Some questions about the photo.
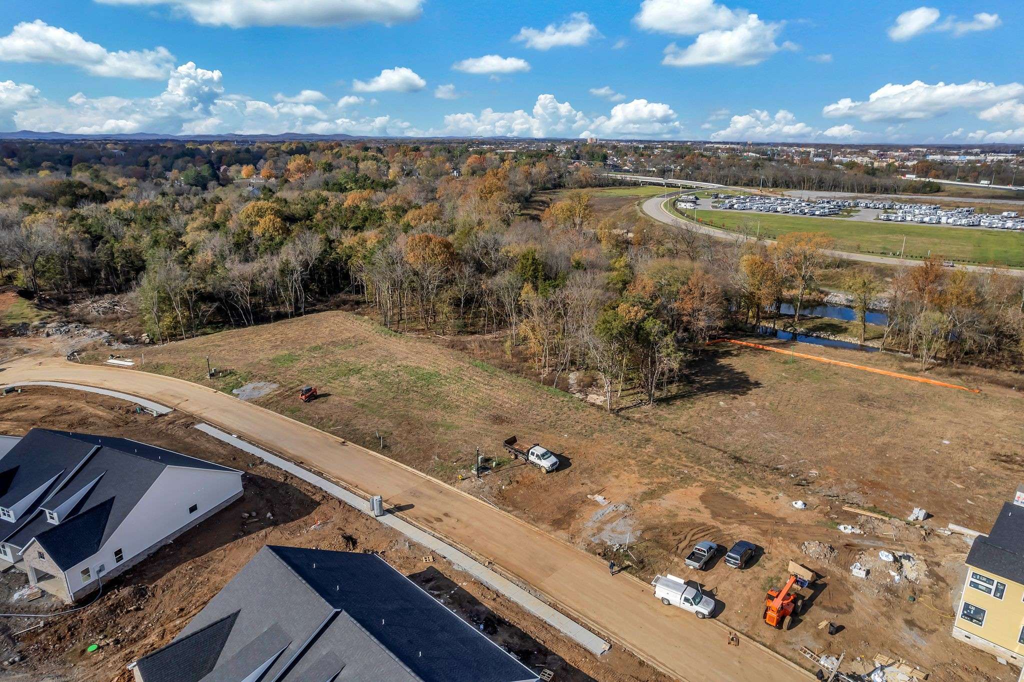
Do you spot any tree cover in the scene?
Yes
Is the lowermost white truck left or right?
right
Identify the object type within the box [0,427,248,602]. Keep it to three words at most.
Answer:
house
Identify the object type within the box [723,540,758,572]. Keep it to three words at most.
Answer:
car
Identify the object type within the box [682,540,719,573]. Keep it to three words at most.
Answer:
truck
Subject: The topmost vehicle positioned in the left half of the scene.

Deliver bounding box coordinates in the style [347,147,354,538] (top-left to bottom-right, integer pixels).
[294,384,319,403]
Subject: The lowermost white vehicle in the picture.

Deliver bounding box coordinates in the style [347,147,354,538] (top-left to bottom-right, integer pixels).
[643,564,719,616]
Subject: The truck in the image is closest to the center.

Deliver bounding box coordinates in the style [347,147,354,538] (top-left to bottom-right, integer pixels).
[504,438,562,476]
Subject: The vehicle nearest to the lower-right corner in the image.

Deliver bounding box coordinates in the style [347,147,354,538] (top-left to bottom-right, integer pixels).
[763,556,823,626]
